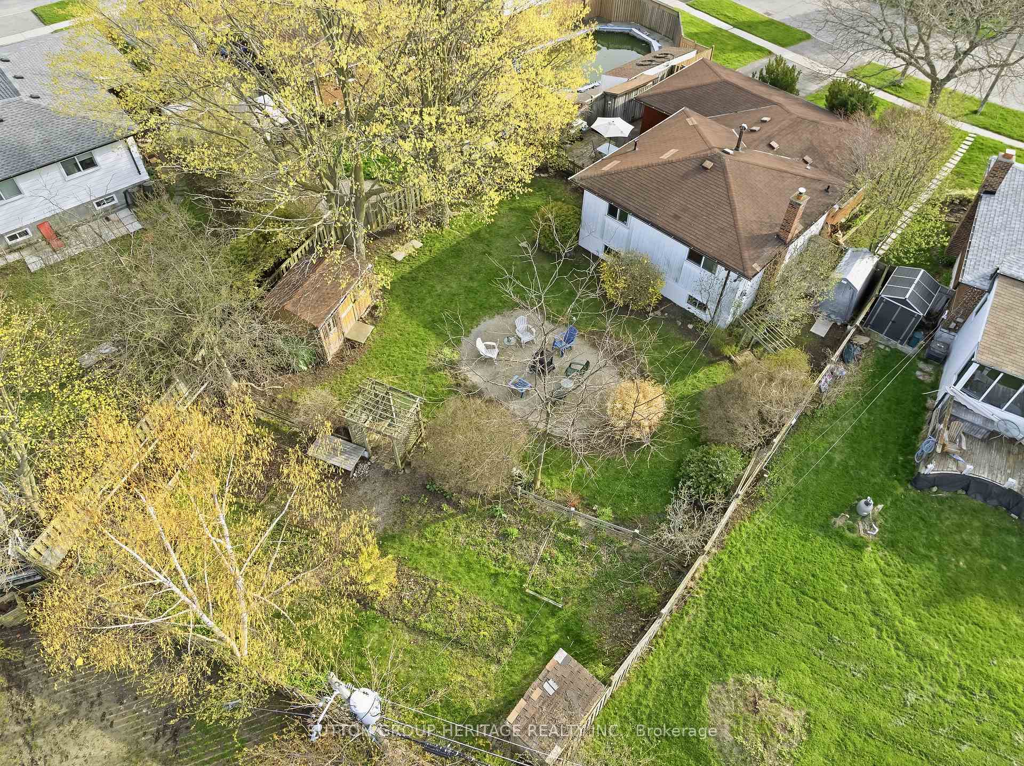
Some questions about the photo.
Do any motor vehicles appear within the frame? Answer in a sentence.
No, no motor vehicle is visible in the scene.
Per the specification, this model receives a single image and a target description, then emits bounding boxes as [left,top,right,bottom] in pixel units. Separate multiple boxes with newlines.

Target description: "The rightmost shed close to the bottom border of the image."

[492,644,608,766]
